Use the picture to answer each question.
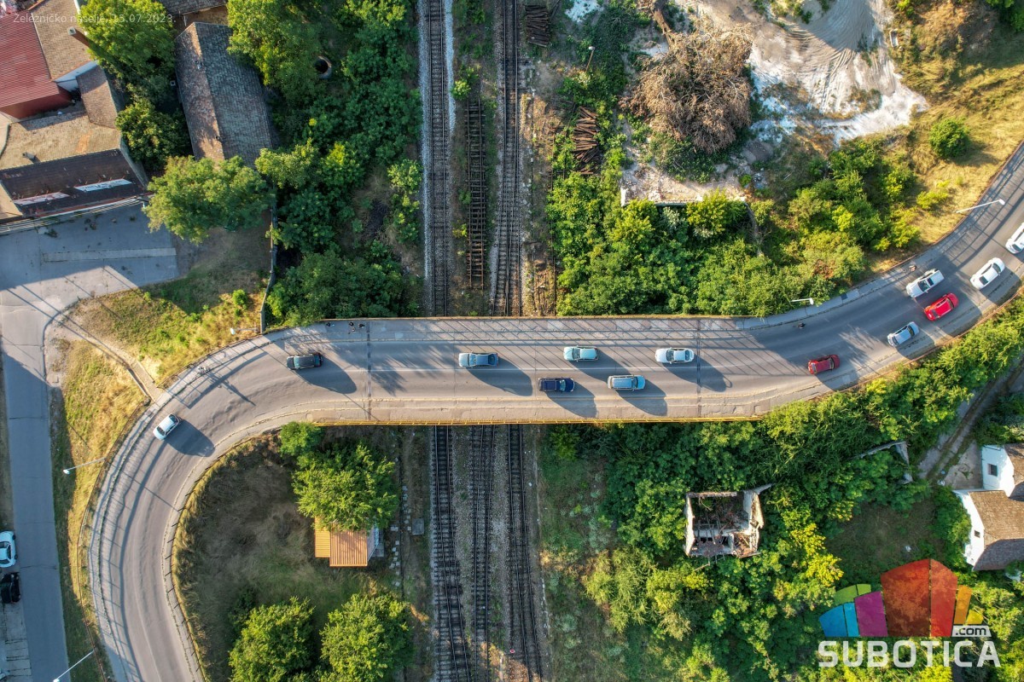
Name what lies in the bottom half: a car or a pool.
car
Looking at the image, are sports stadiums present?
No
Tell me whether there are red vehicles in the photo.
Yes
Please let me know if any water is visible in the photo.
No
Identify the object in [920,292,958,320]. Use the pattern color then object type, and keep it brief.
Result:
red car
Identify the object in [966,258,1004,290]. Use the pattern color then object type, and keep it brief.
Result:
white car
